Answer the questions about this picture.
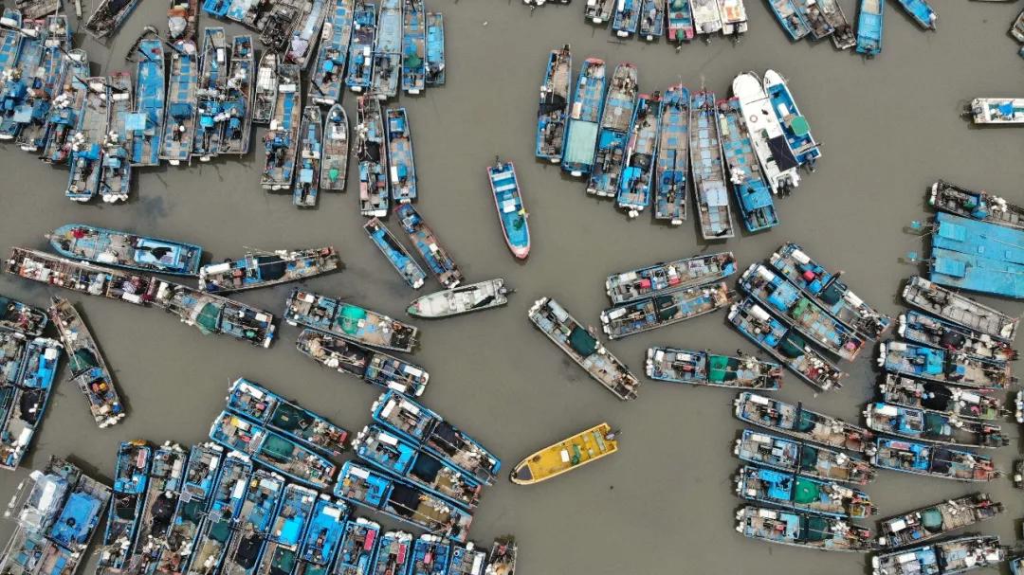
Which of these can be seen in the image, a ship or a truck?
ship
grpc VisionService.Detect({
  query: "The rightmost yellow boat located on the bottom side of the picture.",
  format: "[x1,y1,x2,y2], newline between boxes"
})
[508,423,623,483]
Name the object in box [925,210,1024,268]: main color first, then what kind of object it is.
blue ship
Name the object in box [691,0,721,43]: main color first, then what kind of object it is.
white boat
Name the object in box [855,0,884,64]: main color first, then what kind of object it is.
blue boat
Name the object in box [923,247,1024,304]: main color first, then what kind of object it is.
blue ship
